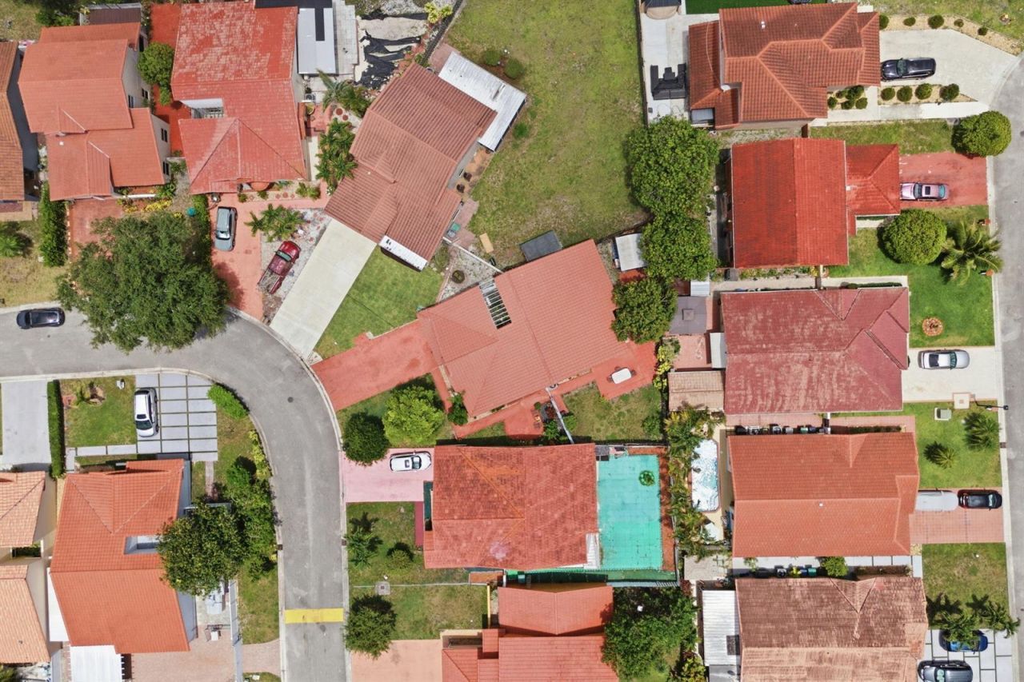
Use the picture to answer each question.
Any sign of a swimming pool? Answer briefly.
Yes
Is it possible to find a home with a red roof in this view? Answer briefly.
Yes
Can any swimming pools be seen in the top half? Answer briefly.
No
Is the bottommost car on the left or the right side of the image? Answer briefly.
right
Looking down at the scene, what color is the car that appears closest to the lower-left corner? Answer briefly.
white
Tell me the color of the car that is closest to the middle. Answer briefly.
white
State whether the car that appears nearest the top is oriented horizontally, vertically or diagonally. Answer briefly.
horizontally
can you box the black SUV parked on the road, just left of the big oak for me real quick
[16,306,67,330]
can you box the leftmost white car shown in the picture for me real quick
[132,387,160,438]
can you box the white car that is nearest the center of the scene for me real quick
[388,450,433,474]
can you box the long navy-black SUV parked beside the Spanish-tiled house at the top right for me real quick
[880,55,936,83]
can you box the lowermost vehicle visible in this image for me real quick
[917,658,974,682]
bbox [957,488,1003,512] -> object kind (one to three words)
car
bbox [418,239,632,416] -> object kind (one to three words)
house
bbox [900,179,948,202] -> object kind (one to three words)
car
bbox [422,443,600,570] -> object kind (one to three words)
house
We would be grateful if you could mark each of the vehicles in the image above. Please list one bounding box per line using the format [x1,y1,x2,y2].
[900,179,948,202]
[388,450,433,474]
[917,348,970,371]
[957,488,1003,512]
[16,306,67,330]
[257,239,301,296]
[132,387,160,438]
[880,55,936,83]
[938,629,989,655]
[917,658,974,682]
